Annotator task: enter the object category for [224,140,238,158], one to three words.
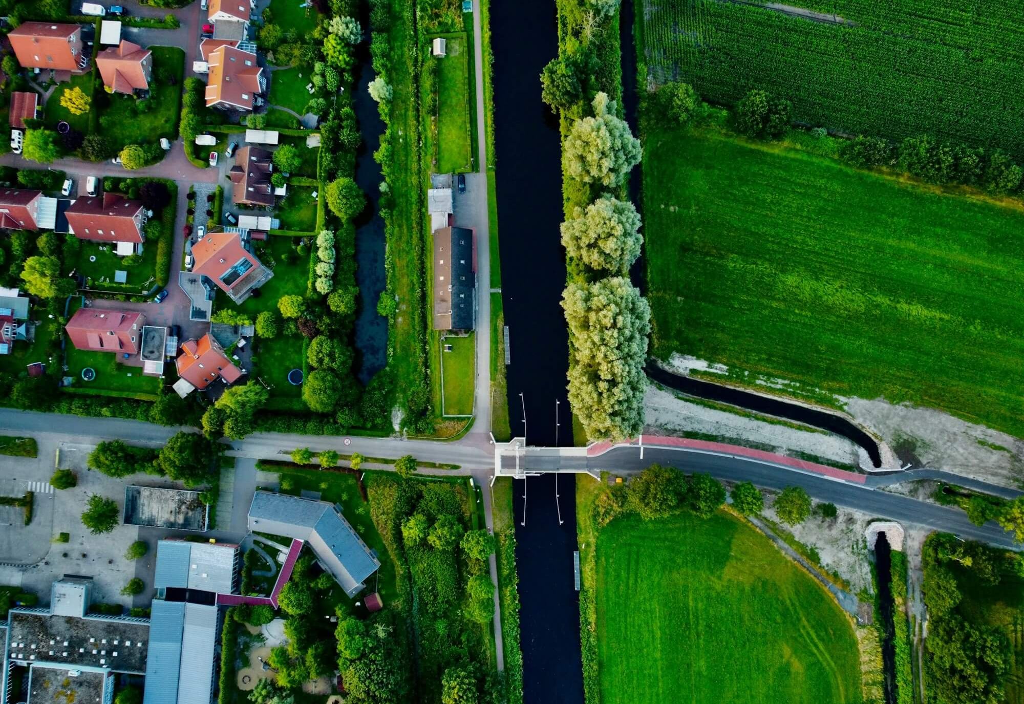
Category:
car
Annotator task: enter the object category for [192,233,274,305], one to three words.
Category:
house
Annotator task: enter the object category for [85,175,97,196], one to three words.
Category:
vehicle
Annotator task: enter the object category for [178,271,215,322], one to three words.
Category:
building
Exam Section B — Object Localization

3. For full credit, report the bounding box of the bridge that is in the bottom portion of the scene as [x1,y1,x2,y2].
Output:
[489,431,600,487]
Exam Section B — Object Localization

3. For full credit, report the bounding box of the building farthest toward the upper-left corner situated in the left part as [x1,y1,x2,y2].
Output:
[8,22,91,72]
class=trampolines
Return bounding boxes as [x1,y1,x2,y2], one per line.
[58,121,69,133]
[79,368,95,381]
[287,369,303,385]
